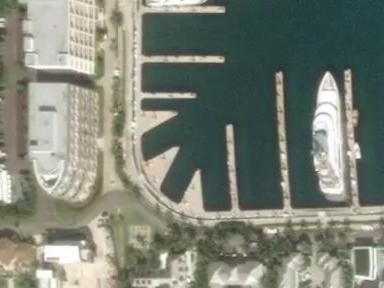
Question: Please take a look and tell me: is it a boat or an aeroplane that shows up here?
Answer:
boat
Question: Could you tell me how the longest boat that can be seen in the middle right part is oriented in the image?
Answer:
from top to bottom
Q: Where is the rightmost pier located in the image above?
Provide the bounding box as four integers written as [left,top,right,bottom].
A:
[344,68,363,207]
